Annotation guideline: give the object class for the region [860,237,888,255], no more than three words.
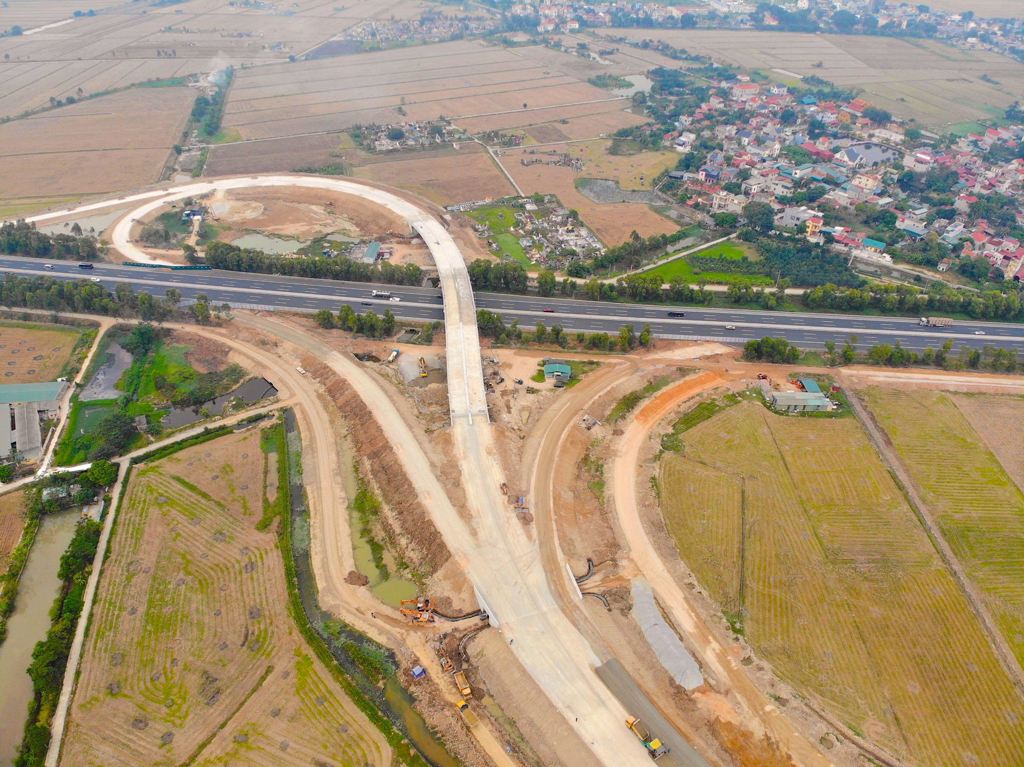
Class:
house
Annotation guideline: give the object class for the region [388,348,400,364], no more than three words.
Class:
vehicle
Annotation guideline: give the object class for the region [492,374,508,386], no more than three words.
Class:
vehicle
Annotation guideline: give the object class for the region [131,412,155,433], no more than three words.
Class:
shed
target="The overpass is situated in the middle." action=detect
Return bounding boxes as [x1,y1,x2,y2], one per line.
[399,212,493,439]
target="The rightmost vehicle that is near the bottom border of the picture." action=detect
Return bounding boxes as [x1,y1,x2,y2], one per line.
[622,709,654,749]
